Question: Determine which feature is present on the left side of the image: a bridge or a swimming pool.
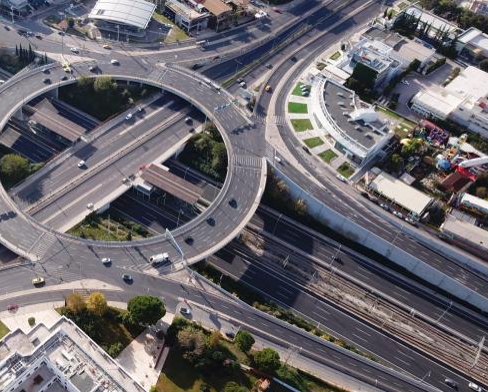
bridge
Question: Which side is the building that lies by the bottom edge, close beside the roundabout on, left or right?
left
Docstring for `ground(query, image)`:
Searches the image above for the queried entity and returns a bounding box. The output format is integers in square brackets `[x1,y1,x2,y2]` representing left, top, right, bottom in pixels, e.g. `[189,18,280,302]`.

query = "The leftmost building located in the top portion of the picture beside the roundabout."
[88,0,156,41]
